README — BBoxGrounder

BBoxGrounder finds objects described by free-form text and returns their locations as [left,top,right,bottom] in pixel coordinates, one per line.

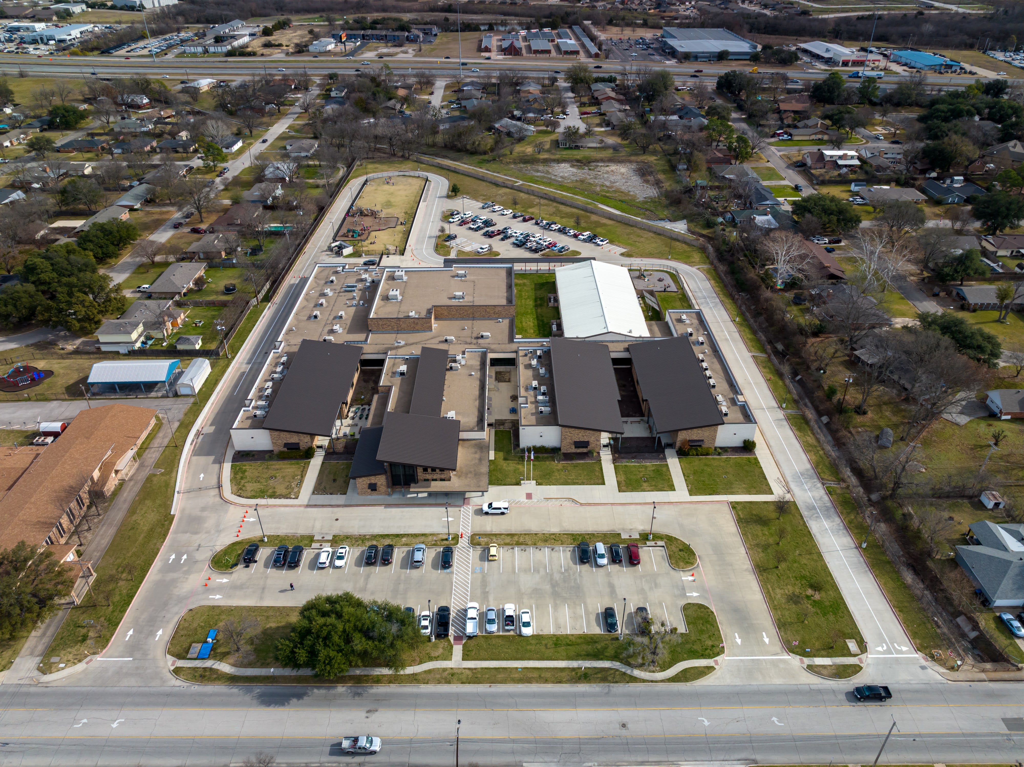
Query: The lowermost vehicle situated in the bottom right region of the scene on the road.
[852,685,895,703]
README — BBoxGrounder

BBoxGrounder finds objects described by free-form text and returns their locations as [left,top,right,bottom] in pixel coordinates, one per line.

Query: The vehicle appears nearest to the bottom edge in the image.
[340,736,382,755]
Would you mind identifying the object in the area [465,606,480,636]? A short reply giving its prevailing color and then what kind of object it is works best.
white vehicle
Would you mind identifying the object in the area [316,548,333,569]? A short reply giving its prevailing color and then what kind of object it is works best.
white car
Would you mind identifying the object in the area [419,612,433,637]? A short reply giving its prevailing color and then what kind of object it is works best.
white car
